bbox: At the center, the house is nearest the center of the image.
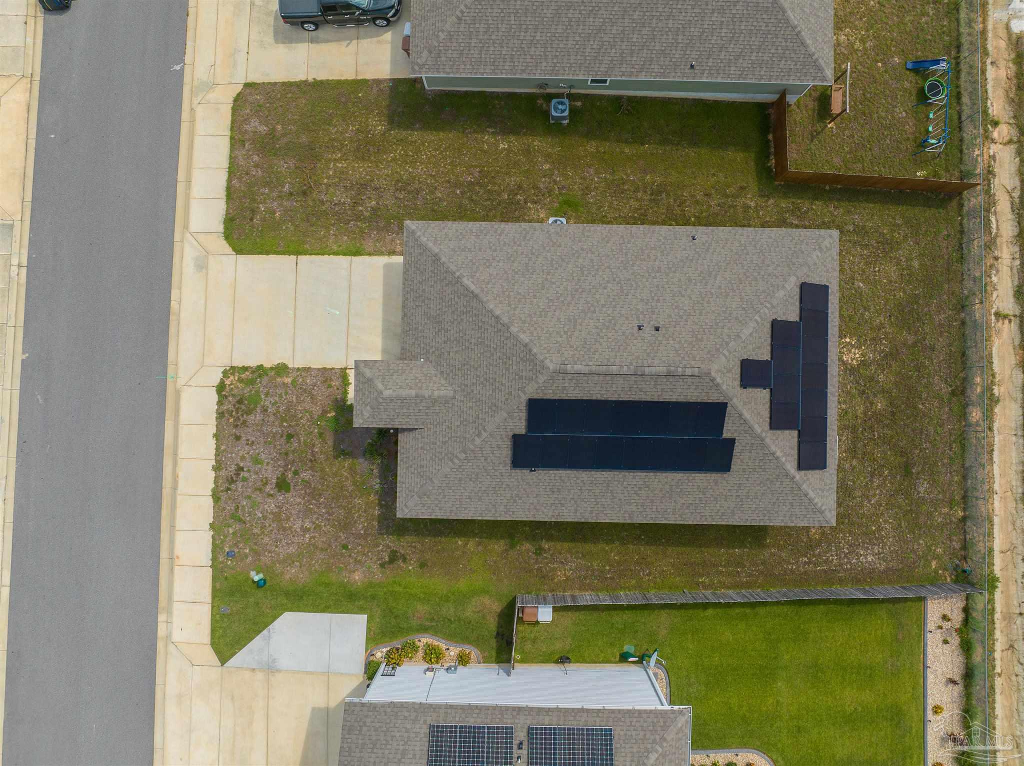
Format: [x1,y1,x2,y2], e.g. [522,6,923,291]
[353,221,839,526]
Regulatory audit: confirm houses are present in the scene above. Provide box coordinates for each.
[339,662,694,766]
[353,221,839,526]
[411,0,834,104]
